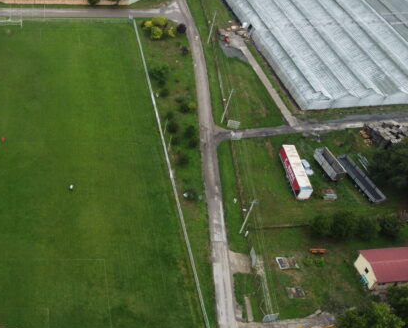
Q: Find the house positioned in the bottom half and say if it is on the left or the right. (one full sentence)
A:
The house positioned in the bottom half appears in the right half of the scene.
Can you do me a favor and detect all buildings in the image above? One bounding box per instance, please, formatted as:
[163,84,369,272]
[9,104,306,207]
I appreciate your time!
[224,0,408,110]
[353,248,408,292]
